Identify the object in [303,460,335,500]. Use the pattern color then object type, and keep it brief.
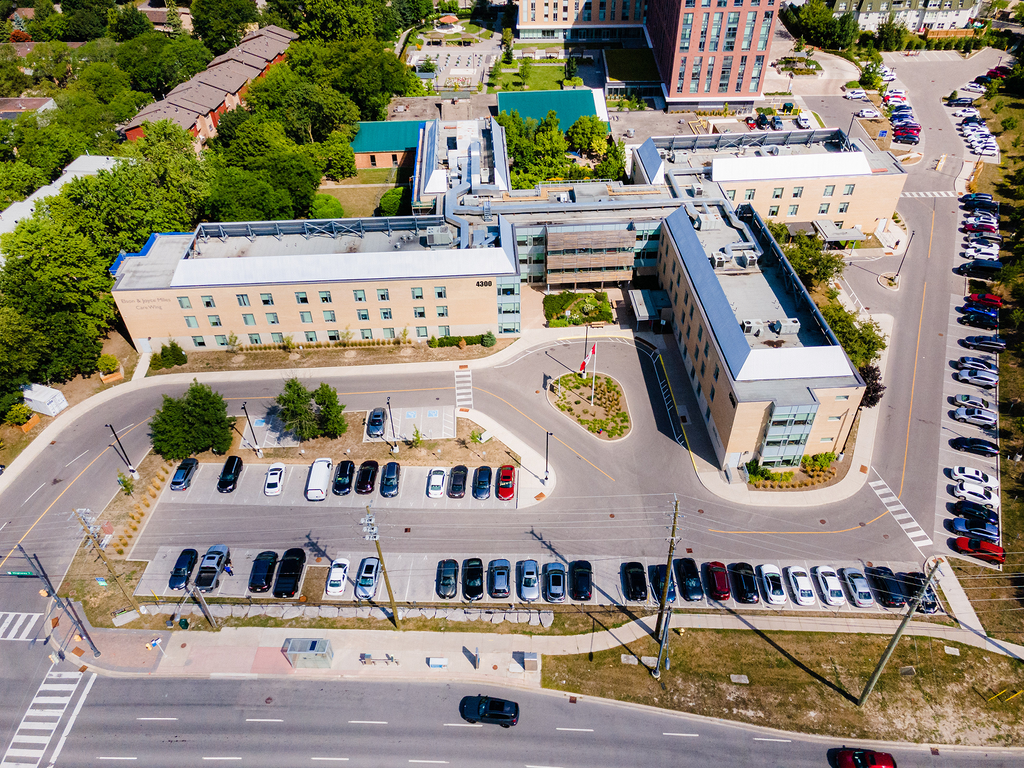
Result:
white van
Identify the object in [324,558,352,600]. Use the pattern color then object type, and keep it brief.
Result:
white car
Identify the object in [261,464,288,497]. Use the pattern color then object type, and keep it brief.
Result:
white car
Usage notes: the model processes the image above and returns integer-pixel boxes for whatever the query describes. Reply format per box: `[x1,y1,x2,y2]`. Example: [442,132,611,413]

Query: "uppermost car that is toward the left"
[366,408,387,437]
